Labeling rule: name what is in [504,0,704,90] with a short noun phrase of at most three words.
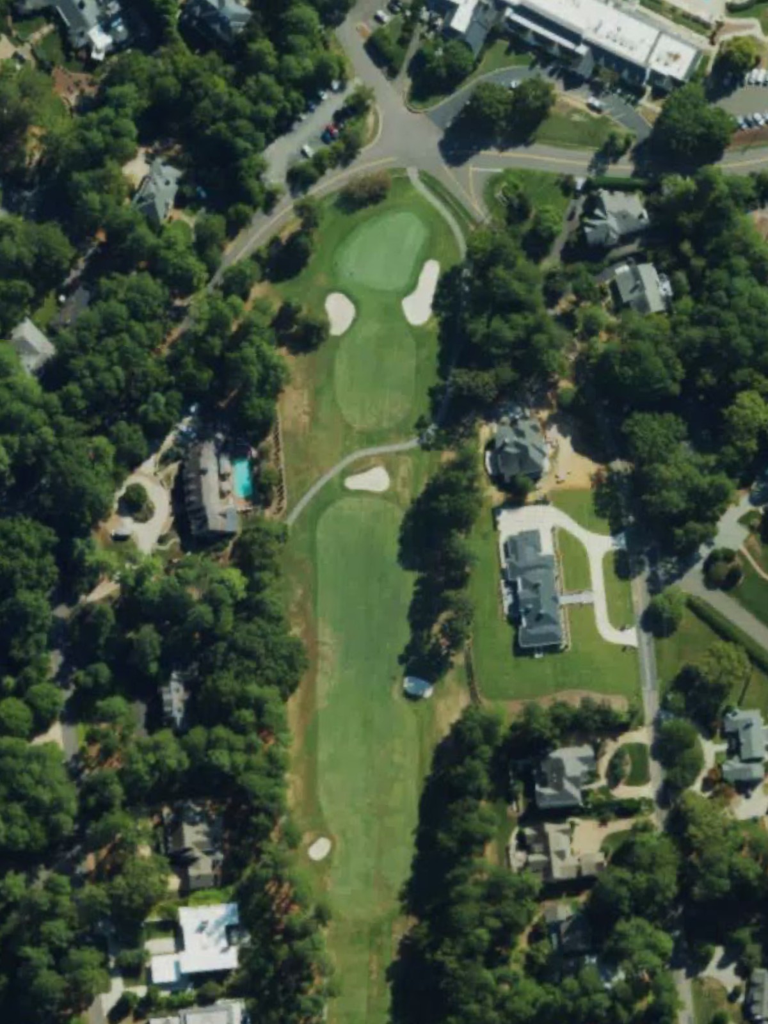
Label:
building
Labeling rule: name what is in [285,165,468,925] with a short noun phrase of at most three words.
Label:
golf course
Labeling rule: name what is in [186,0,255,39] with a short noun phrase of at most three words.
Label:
house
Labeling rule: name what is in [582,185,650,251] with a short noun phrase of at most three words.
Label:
house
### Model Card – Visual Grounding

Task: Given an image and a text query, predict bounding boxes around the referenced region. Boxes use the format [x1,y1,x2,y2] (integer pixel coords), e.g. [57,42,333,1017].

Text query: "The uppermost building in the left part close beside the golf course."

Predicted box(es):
[184,441,237,542]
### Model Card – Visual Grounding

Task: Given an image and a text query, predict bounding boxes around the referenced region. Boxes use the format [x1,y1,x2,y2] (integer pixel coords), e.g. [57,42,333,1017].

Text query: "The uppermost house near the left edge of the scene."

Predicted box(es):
[6,0,112,60]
